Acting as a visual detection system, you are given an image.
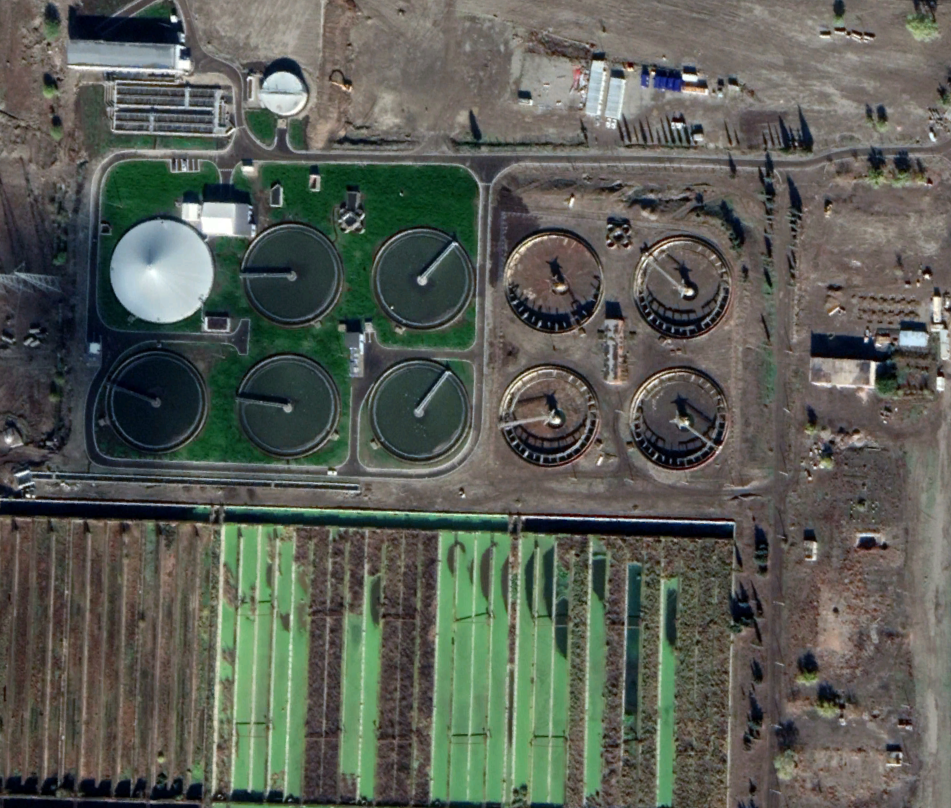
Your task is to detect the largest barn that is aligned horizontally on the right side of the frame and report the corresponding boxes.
[808,357,876,389]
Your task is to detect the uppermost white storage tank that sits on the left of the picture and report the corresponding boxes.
[258,71,309,118]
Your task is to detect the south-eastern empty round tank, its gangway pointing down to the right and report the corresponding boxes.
[629,366,733,471]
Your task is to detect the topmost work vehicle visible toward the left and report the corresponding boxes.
[332,79,356,93]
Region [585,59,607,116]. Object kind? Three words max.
shed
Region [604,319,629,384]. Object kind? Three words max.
building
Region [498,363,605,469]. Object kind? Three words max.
storage tank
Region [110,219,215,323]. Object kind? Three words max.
storage tank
